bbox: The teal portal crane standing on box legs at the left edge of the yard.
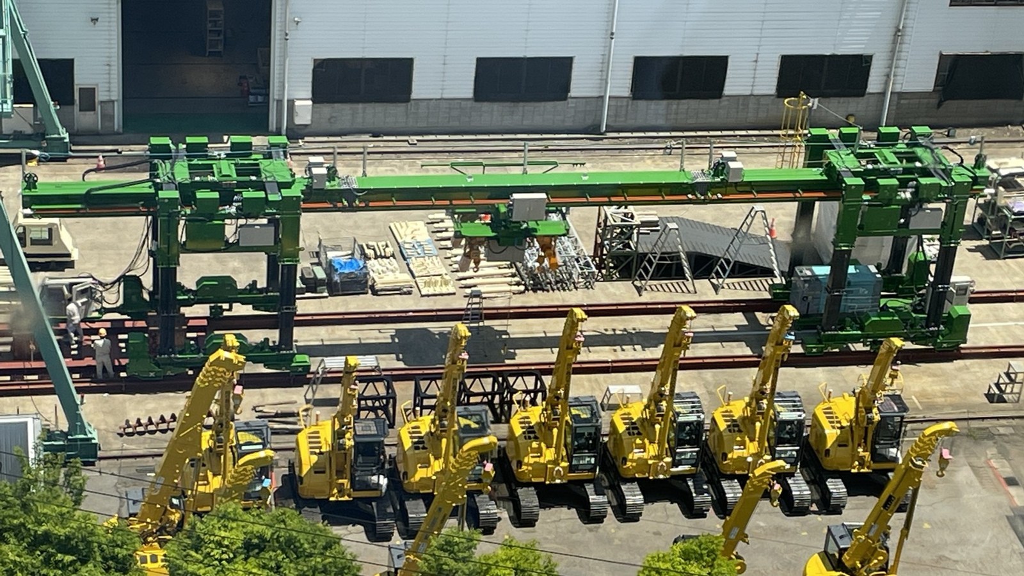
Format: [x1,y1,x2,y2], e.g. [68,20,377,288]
[0,0,101,462]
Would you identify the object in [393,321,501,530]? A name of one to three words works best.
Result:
crane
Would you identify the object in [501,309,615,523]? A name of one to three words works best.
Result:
crane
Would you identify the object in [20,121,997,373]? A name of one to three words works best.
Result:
container crane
